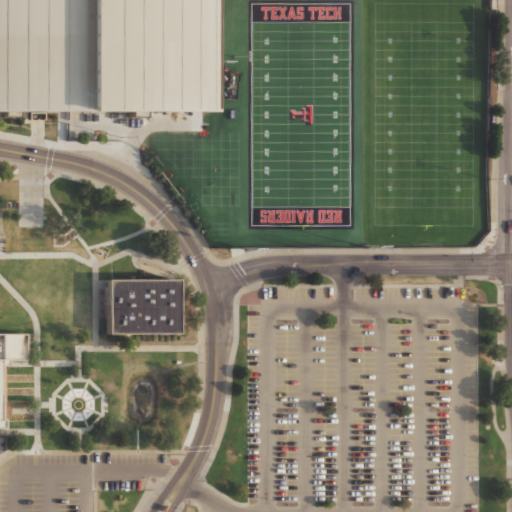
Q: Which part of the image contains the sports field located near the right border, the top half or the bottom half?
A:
top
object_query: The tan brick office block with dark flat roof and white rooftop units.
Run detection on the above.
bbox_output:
[108,280,184,334]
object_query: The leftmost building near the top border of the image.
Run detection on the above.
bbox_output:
[0,0,100,113]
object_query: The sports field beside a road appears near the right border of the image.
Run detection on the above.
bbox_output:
[362,0,488,247]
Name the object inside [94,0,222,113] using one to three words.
building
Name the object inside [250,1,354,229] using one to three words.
sports field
